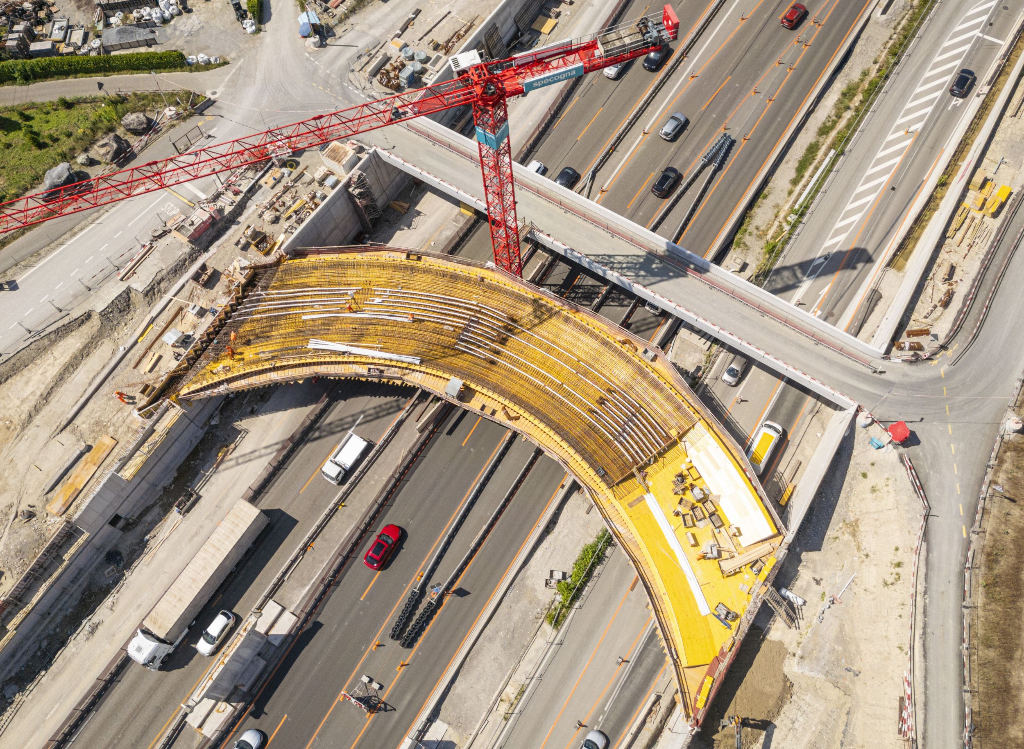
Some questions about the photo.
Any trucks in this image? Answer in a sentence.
Yes, you can see a truck in this photo.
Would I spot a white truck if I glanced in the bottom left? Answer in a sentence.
Yes, looking in the bottom left, one can make out a white truck.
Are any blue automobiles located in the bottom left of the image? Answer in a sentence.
No, in the bottom left of the image there is no blue automobile.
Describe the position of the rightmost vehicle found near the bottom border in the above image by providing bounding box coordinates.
[706,693,736,749]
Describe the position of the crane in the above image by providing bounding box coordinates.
[0,0,691,282]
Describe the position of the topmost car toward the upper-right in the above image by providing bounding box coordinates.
[781,2,805,29]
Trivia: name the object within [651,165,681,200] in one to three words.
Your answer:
car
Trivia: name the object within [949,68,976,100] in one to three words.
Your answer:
car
